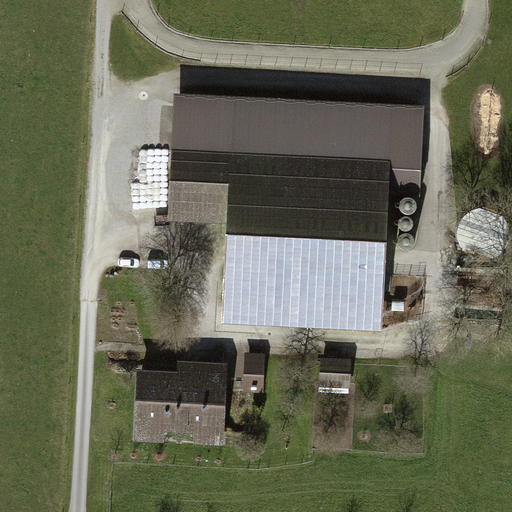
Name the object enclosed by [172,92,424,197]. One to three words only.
barn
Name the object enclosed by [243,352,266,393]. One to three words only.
shed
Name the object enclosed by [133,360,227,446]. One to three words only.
house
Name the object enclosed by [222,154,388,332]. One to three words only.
barn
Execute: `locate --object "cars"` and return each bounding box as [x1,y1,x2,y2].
[148,258,168,269]
[118,256,138,268]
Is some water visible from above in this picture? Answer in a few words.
No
